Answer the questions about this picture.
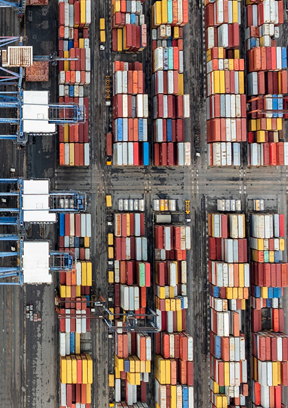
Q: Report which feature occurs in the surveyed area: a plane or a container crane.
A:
container crane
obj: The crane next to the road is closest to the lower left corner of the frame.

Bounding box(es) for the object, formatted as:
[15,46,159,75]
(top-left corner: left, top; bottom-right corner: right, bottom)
[55,292,108,320]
